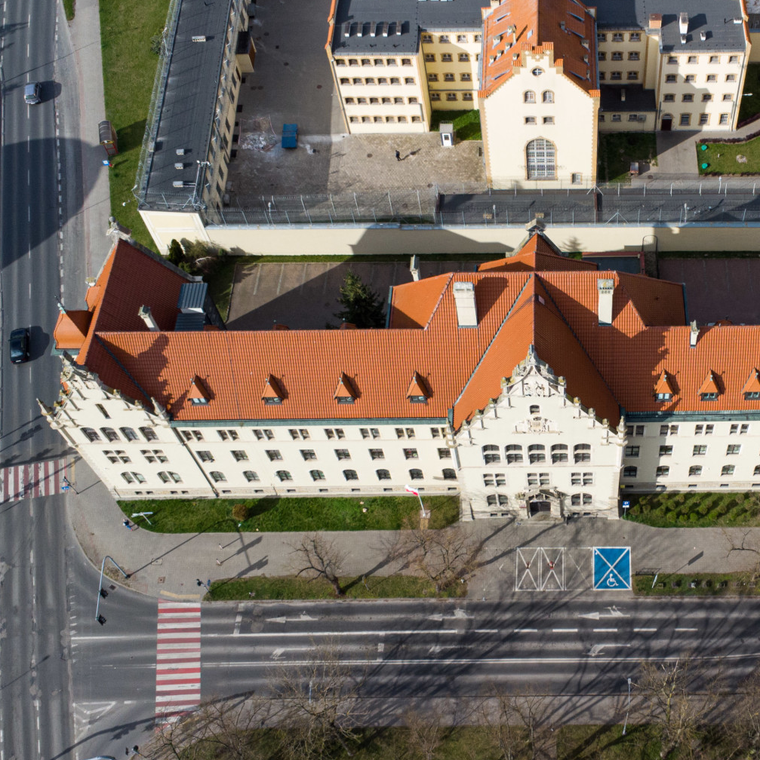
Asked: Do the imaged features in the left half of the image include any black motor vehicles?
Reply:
Yes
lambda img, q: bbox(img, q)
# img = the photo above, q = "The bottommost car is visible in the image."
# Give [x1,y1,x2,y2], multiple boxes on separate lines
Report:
[6,327,29,365]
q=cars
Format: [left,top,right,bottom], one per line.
[20,78,40,102]
[6,327,29,365]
